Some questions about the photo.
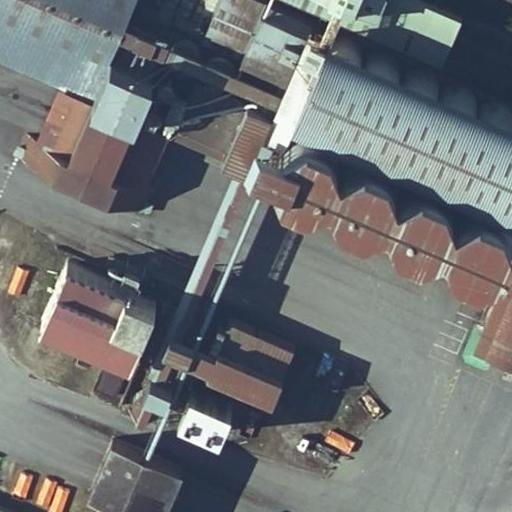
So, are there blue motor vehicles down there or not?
No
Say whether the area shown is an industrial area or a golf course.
industrial area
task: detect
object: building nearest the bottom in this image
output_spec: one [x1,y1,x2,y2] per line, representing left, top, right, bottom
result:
[82,435,183,512]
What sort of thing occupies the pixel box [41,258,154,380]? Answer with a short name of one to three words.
building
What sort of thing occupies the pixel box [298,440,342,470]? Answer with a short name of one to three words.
truck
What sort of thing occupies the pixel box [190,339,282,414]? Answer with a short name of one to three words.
building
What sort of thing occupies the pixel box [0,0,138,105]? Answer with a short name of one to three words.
shed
